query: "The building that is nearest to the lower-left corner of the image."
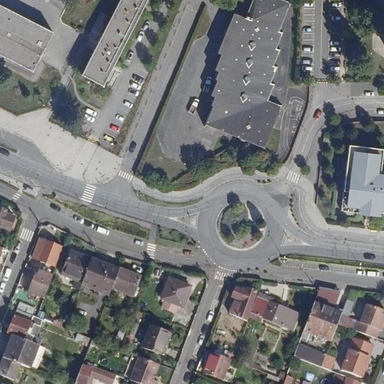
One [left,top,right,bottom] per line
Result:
[0,356,26,382]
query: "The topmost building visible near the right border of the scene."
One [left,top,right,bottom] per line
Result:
[342,144,384,216]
